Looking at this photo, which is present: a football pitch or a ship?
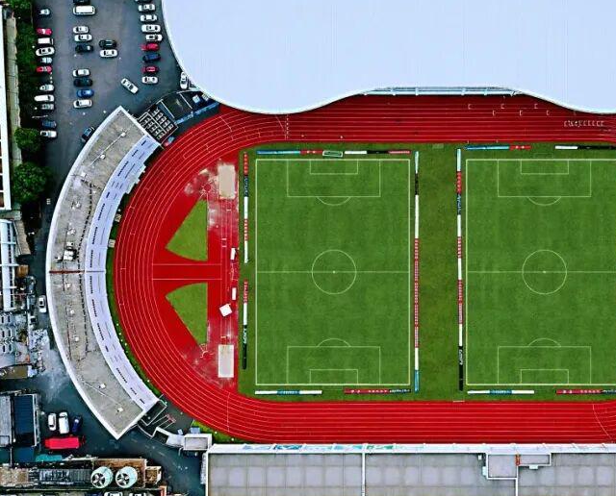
football pitch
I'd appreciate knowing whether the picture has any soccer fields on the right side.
Yes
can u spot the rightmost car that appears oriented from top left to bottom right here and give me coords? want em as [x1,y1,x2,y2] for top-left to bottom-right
[121,78,138,94]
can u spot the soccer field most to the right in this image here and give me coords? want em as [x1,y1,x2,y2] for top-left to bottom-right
[464,157,616,388]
